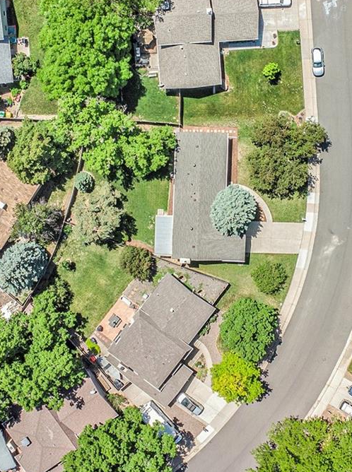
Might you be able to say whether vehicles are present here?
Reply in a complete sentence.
Yes, there's a vehicle here.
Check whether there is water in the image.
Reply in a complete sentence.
No, no water is visible.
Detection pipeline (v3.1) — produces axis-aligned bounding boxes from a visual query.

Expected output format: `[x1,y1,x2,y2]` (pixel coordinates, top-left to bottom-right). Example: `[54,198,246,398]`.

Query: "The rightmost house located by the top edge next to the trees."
[156,0,258,88]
